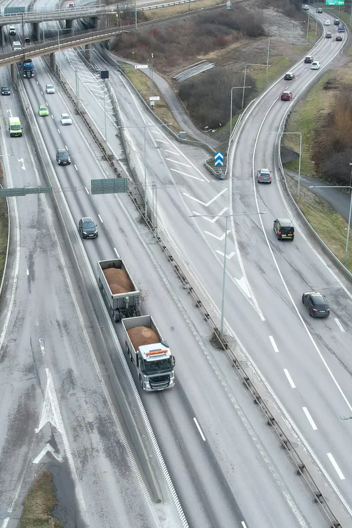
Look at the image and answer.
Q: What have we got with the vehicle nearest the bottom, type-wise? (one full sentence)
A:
From above, the vehicle nearest the bottom can be identified as a truck.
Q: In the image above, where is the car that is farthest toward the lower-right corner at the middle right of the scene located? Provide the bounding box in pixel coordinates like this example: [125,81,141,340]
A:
[299,289,328,317]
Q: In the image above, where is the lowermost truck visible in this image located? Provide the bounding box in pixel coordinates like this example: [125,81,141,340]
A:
[120,314,178,390]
